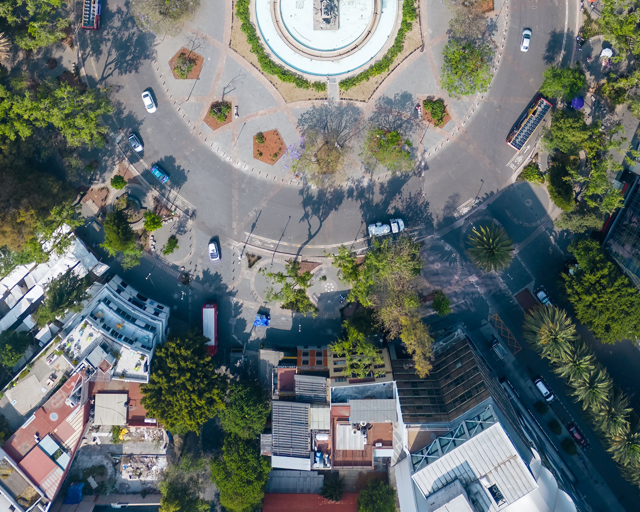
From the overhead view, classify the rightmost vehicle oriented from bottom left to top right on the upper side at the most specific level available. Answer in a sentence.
In the photo, the rightmost vehicle oriented from bottom left to top right on the upper side shows up as a bus.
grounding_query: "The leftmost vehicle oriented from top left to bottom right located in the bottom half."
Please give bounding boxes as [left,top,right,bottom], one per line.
[491,339,508,363]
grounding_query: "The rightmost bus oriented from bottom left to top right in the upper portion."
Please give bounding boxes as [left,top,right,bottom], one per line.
[501,94,552,151]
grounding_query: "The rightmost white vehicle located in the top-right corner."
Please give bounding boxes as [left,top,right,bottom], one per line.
[520,27,533,52]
